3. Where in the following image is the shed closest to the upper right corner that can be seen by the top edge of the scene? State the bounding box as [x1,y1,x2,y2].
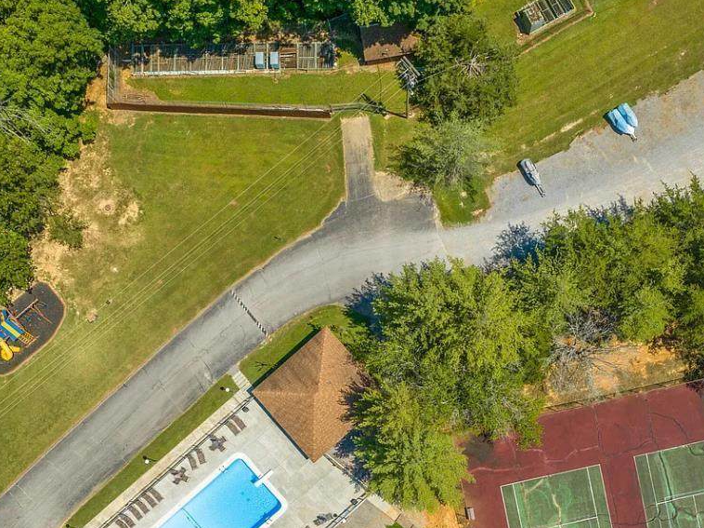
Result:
[360,17,422,73]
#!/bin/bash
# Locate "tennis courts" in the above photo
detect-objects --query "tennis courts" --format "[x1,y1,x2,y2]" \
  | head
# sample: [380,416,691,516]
[633,441,704,528]
[501,466,612,528]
